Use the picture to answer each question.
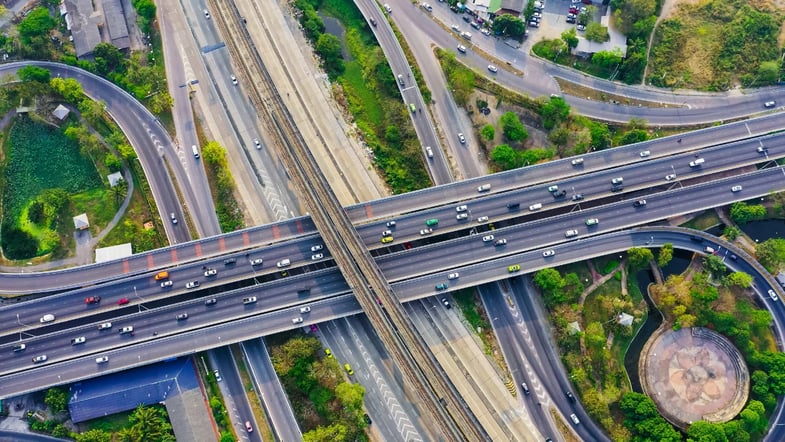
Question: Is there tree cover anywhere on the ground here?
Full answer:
Yes, some tree cover is visible.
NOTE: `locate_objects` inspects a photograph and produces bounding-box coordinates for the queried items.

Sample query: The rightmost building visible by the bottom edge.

[67,357,219,442]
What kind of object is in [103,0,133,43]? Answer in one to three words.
building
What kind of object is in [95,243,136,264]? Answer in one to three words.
building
